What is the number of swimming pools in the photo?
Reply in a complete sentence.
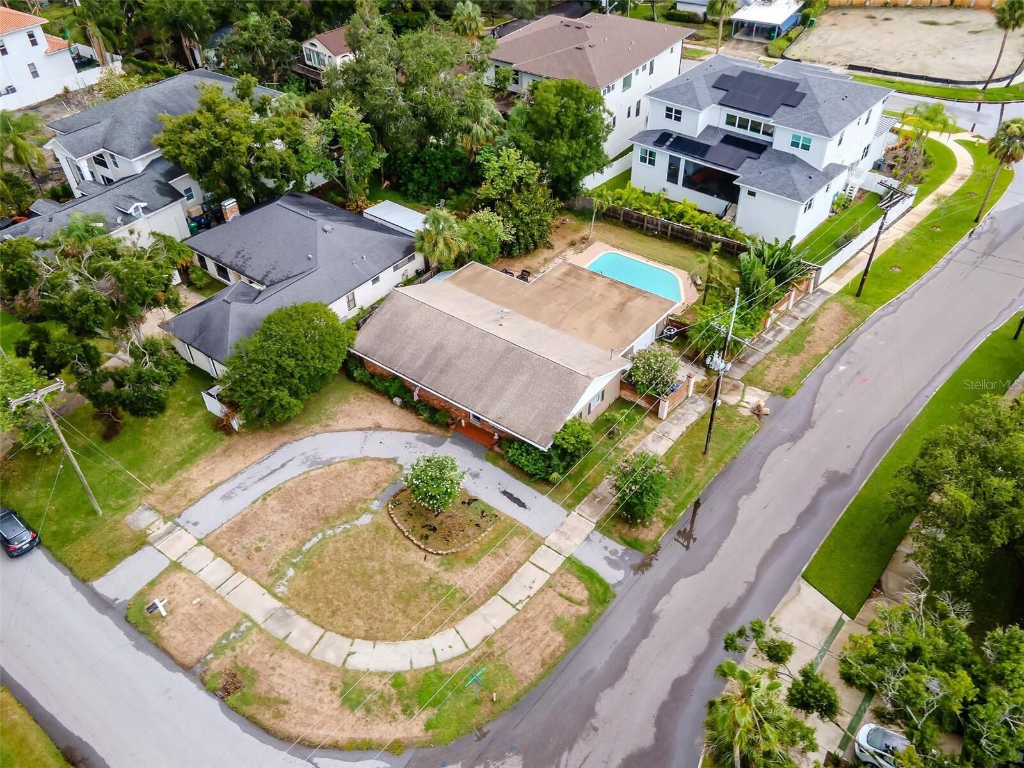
The picture shows 1 swimming pool.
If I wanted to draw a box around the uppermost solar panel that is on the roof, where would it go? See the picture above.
[712,74,806,117]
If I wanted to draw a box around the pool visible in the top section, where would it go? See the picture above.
[579,248,687,312]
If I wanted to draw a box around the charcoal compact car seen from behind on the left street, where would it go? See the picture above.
[0,512,35,561]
